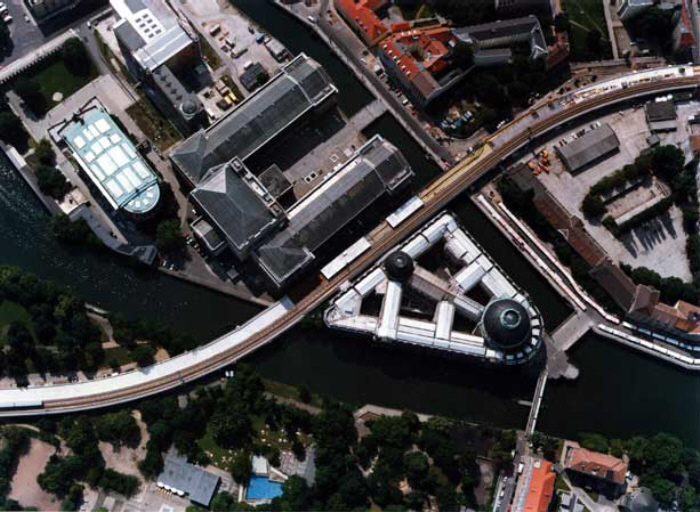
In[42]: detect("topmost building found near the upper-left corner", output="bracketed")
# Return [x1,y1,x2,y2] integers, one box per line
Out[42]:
[25,0,86,40]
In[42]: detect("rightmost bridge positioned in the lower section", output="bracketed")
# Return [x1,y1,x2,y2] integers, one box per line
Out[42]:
[550,310,595,354]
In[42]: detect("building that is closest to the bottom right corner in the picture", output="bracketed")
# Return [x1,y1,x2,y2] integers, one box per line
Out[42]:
[617,481,661,512]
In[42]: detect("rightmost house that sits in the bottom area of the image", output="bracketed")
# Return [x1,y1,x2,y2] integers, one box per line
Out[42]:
[642,300,700,346]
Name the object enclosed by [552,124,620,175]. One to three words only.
building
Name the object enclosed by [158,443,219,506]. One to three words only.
building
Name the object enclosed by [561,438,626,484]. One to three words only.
house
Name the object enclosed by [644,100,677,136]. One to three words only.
shed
